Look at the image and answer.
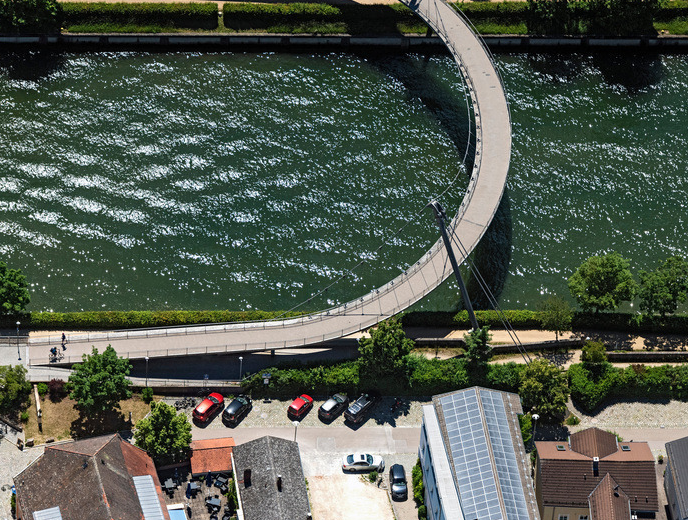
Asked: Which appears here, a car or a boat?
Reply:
car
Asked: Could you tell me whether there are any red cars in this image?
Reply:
Yes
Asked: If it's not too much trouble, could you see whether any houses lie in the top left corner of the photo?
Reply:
No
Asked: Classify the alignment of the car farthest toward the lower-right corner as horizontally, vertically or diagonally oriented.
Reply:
vertically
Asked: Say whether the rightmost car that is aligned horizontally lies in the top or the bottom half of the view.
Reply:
bottom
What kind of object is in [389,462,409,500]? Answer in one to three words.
car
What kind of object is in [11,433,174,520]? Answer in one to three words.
house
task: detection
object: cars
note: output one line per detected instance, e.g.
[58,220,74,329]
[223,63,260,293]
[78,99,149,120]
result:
[191,395,224,425]
[221,394,253,426]
[343,391,379,426]
[341,451,385,472]
[286,393,313,421]
[389,462,409,500]
[317,393,350,423]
